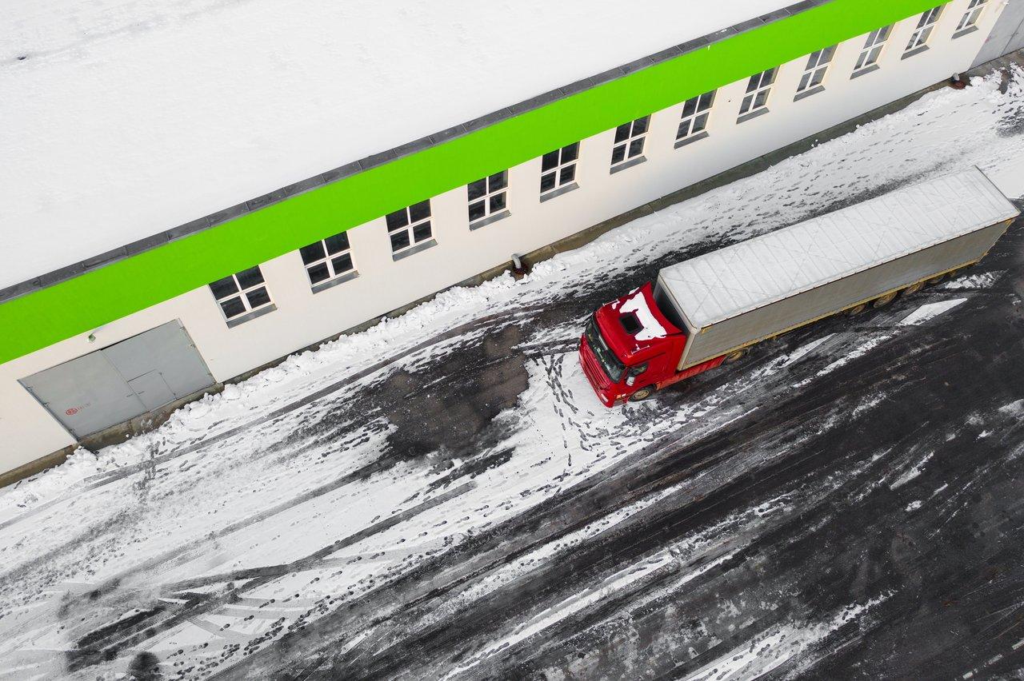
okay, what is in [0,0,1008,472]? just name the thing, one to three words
building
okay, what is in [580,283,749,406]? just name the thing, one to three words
truck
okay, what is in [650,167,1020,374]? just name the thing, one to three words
trailer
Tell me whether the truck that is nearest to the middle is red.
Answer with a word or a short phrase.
Yes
